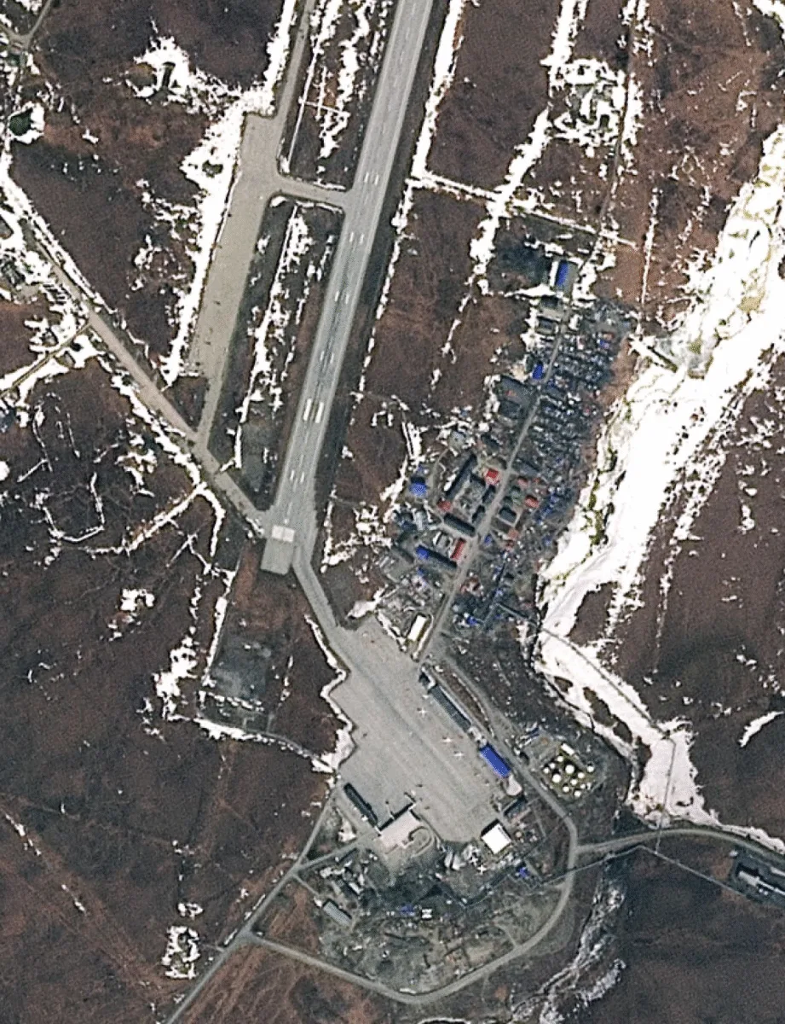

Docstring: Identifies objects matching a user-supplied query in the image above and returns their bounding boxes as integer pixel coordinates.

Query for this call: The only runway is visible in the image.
[268,0,432,540]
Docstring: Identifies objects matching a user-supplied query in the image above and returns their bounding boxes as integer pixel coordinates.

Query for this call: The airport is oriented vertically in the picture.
[189,0,508,869]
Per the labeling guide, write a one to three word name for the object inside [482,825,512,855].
hangar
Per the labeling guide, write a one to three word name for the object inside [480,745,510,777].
building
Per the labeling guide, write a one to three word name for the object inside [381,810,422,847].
building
